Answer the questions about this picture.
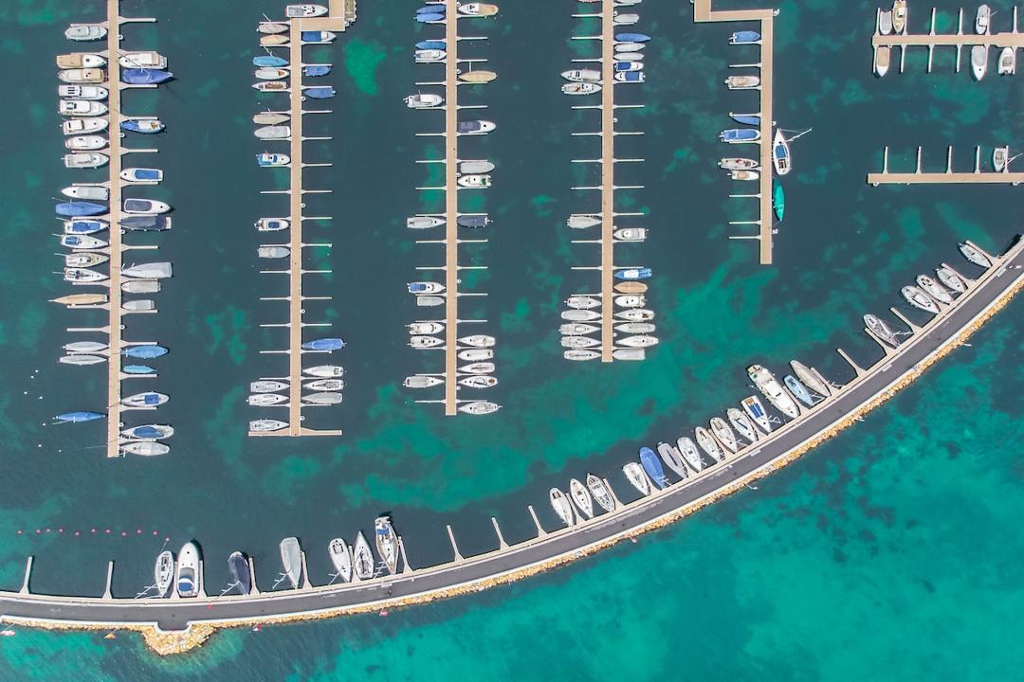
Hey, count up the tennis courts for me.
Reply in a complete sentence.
The picture shows no tennis courts.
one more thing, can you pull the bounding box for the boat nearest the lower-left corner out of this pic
[138,550,175,598]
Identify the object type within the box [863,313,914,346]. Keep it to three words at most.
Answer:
boat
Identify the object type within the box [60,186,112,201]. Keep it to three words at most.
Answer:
boat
